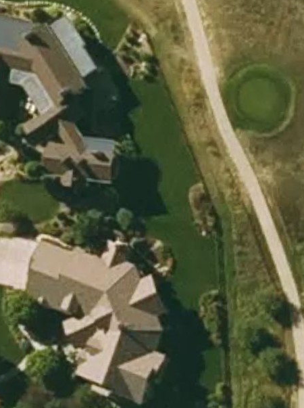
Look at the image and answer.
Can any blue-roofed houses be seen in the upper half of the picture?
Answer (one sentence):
No, the scene shows no blue-roofed house in the upper half of the picture.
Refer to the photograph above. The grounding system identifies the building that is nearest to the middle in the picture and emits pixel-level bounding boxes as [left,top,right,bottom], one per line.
[40,113,116,188]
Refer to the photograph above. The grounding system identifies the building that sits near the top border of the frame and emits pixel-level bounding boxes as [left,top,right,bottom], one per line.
[0,15,97,136]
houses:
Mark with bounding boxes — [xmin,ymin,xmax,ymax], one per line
[0,15,97,136]
[40,113,116,188]
[26,240,167,405]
